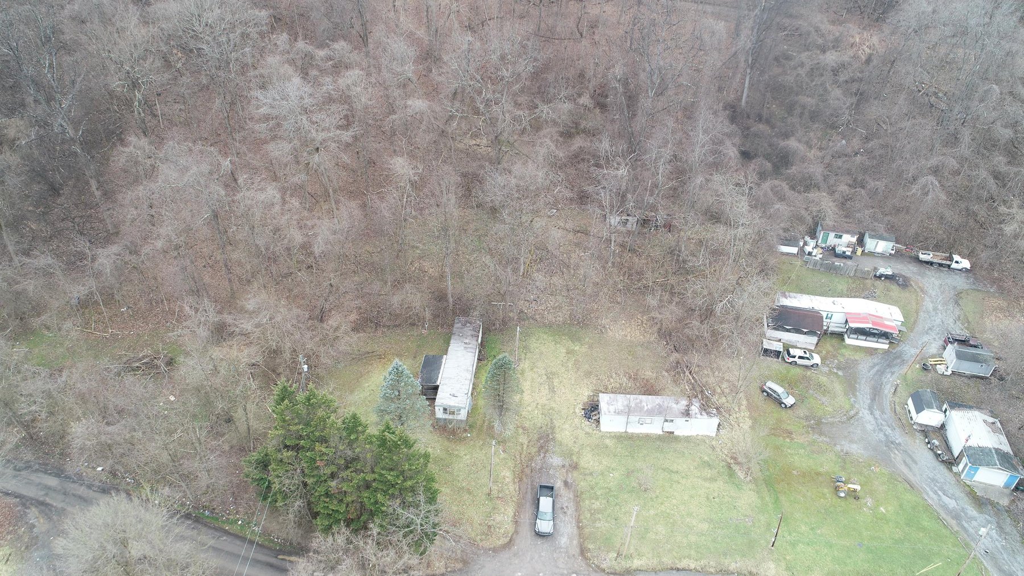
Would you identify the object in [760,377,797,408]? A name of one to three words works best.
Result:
car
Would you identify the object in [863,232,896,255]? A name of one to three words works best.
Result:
shed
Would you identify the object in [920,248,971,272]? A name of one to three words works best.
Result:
truck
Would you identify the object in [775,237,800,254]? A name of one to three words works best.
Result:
shed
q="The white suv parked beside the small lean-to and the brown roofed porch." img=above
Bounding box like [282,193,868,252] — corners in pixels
[785,347,824,368]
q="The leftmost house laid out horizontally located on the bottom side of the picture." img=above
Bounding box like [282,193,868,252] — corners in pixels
[600,393,721,436]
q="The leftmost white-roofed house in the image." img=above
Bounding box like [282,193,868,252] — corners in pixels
[418,316,482,427]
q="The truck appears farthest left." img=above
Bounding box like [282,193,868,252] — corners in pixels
[535,481,557,533]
